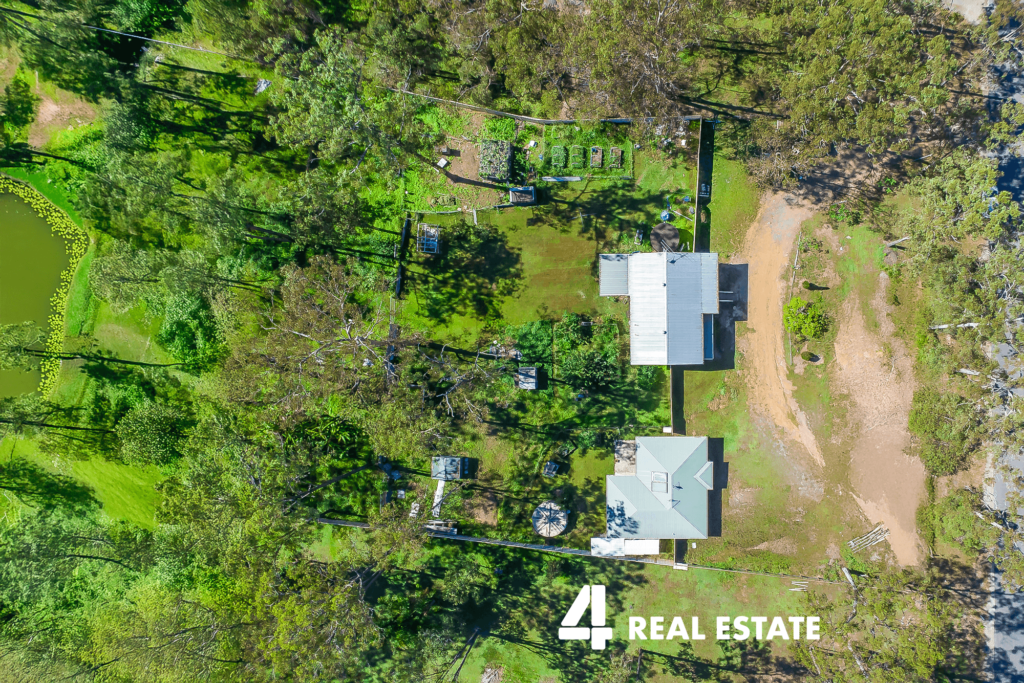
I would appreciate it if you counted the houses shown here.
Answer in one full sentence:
I count 2 houses.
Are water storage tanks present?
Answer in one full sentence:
Yes, you can see a water storage tank in this photo.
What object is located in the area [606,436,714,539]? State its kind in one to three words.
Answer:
house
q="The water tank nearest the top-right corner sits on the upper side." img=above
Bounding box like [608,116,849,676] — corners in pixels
[647,221,680,252]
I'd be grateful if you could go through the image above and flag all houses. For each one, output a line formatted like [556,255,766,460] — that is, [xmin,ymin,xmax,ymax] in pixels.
[606,436,714,539]
[597,247,728,365]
